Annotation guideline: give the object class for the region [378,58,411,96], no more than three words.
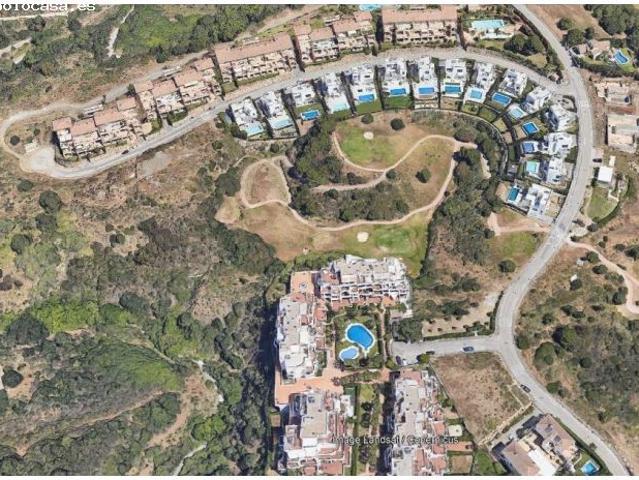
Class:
house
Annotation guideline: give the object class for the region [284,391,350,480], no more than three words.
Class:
building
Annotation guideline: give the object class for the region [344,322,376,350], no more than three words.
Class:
swimming pool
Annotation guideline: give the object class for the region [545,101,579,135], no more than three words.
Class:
house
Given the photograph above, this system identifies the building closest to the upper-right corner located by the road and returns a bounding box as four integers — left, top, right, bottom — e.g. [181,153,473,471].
[575,39,614,61]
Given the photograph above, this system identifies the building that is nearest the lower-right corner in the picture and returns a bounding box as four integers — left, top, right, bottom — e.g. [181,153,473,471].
[499,414,577,480]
